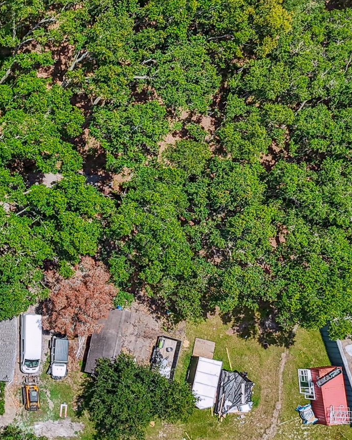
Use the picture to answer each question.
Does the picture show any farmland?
No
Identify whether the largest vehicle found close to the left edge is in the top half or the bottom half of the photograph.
bottom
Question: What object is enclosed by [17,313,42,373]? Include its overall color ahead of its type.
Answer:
white vehicle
